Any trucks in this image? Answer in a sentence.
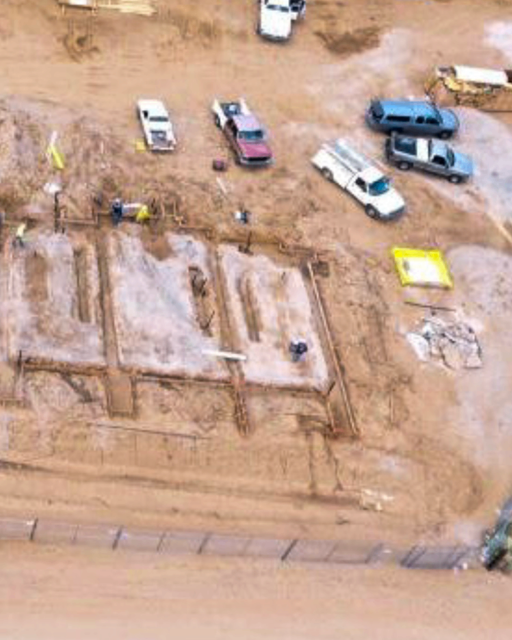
Yes, a truck appears in the view.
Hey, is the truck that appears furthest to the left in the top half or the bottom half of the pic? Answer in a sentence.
It is in the top half that the truck that appears furthest to the left appears.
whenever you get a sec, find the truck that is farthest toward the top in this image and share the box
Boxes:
[257,0,309,41]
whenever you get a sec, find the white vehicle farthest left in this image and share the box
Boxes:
[133,101,177,153]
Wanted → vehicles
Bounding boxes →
[133,101,177,153]
[315,137,408,223]
[365,94,462,136]
[211,98,274,170]
[384,130,477,182]
[257,0,309,41]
